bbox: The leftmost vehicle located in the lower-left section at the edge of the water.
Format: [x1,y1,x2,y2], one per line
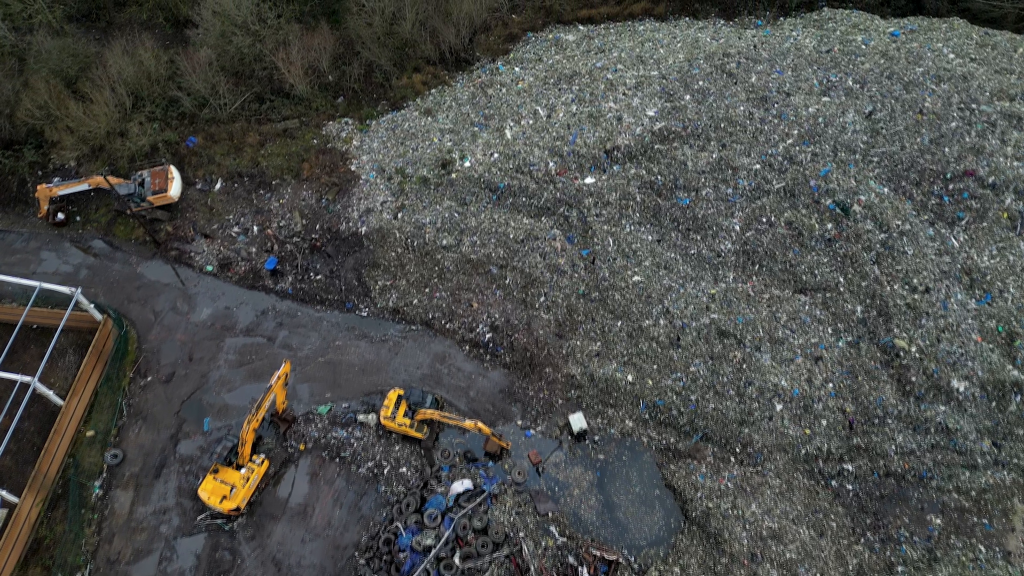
[199,356,300,517]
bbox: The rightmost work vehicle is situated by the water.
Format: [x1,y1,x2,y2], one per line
[376,384,517,461]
